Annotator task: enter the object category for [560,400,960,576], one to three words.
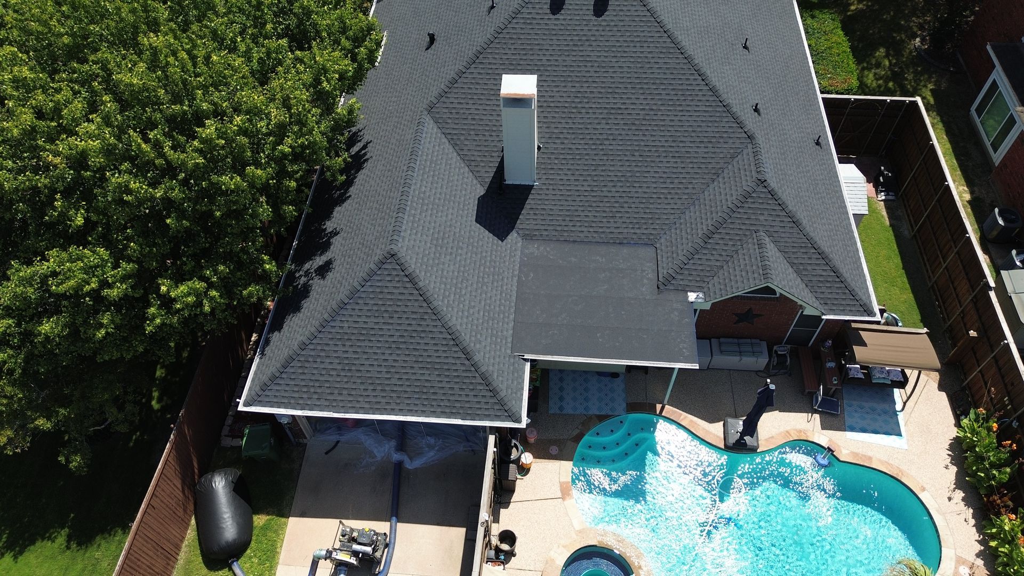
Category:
swimming pool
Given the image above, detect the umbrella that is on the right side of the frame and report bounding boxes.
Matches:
[724,379,783,449]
